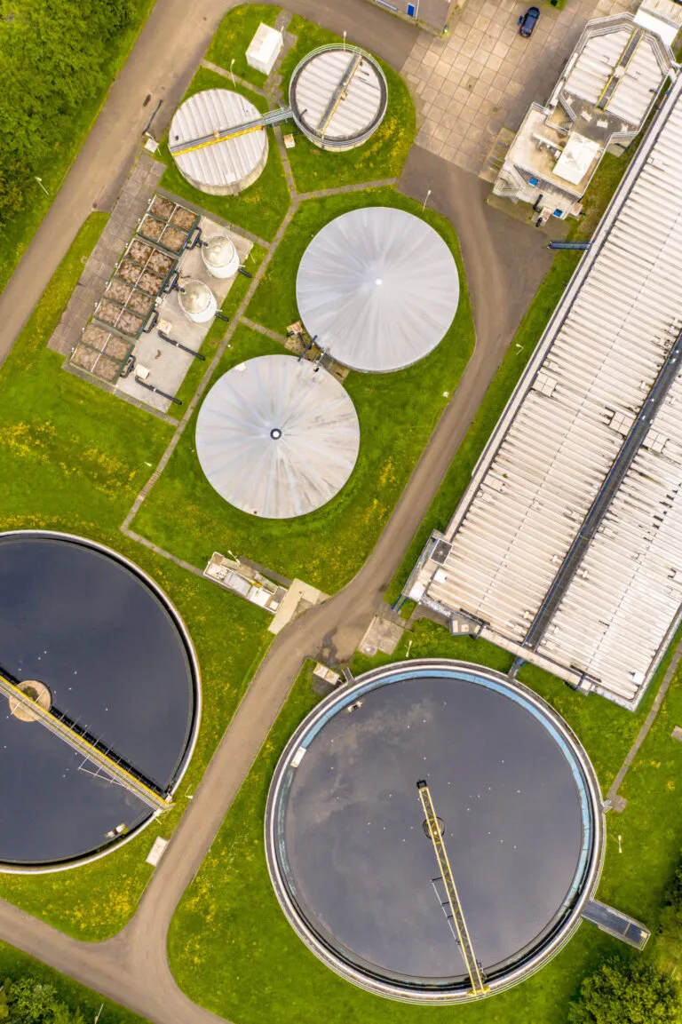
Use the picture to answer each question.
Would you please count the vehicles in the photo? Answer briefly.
one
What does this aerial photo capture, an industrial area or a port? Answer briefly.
industrial area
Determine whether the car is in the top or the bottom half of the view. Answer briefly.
top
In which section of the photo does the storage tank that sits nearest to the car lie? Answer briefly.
top right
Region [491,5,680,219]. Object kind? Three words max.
building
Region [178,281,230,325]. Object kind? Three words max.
storage tank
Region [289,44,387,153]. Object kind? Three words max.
storage tank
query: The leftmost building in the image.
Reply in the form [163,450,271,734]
[246,23,285,77]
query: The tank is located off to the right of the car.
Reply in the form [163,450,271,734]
[547,12,674,151]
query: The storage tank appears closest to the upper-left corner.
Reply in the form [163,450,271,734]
[166,88,268,195]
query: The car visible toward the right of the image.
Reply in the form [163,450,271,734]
[517,6,539,40]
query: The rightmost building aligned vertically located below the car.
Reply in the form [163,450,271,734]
[401,58,682,714]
